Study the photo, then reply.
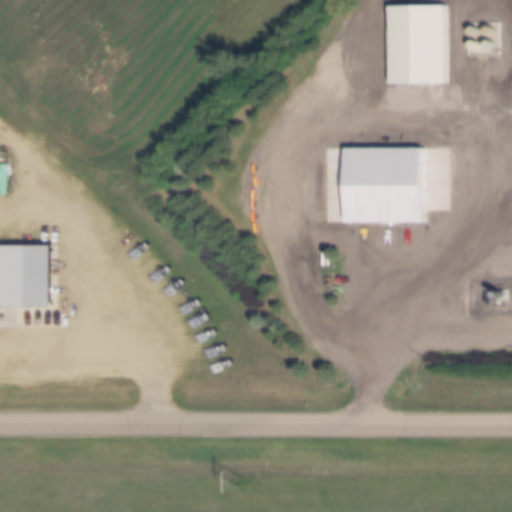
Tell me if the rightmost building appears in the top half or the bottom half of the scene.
top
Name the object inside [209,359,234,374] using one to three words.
vehicle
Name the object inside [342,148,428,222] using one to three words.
building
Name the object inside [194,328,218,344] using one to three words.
vehicle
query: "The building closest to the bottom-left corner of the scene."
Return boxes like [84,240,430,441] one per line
[0,245,52,306]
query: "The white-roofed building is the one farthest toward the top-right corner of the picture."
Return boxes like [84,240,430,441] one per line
[388,4,448,82]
